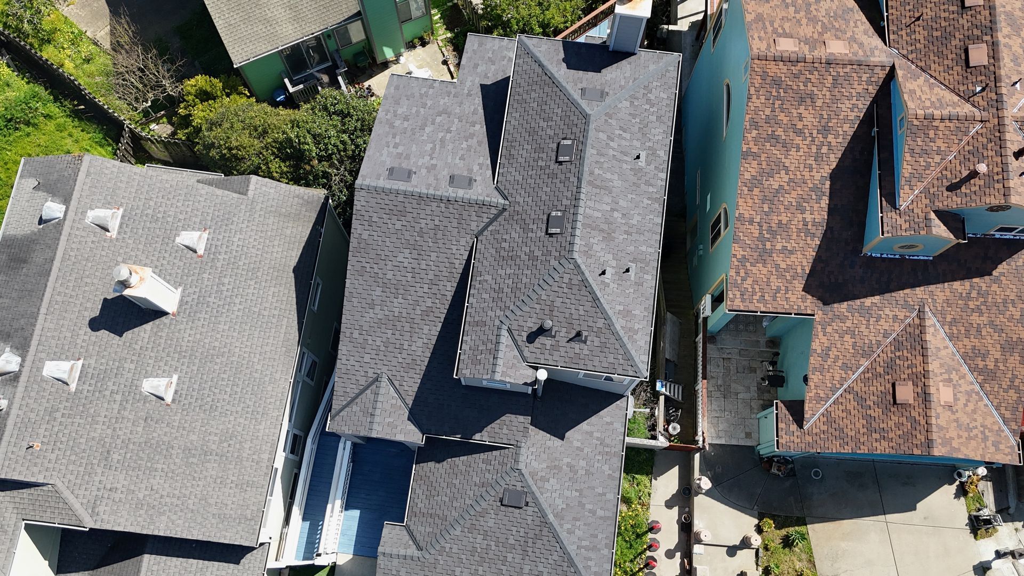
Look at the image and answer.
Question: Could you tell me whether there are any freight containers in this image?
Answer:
No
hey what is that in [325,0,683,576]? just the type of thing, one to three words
house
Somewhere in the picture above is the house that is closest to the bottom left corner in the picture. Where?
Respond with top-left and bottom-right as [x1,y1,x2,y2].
[0,155,343,576]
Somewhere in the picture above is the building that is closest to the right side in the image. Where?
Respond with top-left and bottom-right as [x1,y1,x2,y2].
[687,0,1024,464]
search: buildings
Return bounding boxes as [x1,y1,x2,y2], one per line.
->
[325,0,683,576]
[0,155,343,576]
[205,0,434,99]
[687,0,1024,464]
